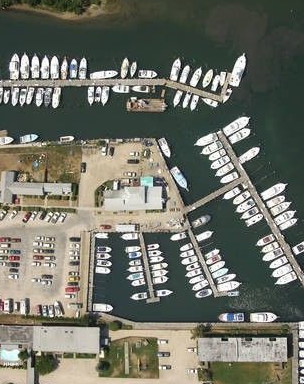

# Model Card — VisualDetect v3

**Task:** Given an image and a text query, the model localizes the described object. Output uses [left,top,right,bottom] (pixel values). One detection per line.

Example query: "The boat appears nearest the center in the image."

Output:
[172,166,189,192]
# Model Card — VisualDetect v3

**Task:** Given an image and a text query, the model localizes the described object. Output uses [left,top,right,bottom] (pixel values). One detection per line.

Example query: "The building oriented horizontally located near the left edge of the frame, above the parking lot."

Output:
[0,172,72,204]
